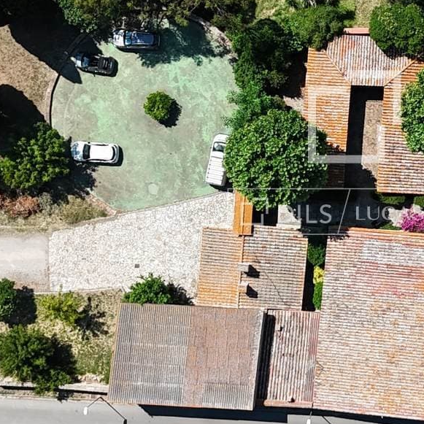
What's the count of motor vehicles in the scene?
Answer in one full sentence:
I count 4 motor vehicles.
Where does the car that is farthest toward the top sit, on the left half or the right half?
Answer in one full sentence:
You can find the car that is farthest toward the top on the left side of the picture.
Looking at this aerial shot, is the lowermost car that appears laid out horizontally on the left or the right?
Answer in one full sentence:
The lowermost car that appears laid out horizontally appears in the left half of the scene.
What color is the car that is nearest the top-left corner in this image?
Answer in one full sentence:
The car that is nearest the top-left corner is black.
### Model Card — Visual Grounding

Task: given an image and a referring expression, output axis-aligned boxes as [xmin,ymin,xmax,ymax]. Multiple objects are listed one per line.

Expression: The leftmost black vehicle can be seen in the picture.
[74,51,119,79]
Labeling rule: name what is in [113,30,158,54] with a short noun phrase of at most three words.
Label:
car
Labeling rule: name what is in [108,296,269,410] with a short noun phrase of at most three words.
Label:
barn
